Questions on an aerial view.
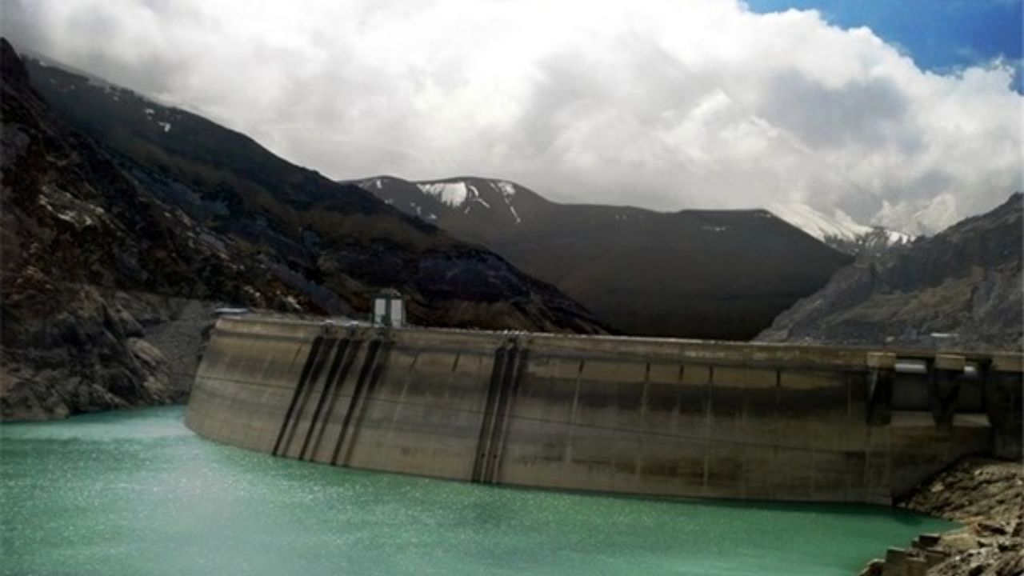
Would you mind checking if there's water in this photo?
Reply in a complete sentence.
Yes, the picture does contain water.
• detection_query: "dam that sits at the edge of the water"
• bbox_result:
[180,317,1024,507]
